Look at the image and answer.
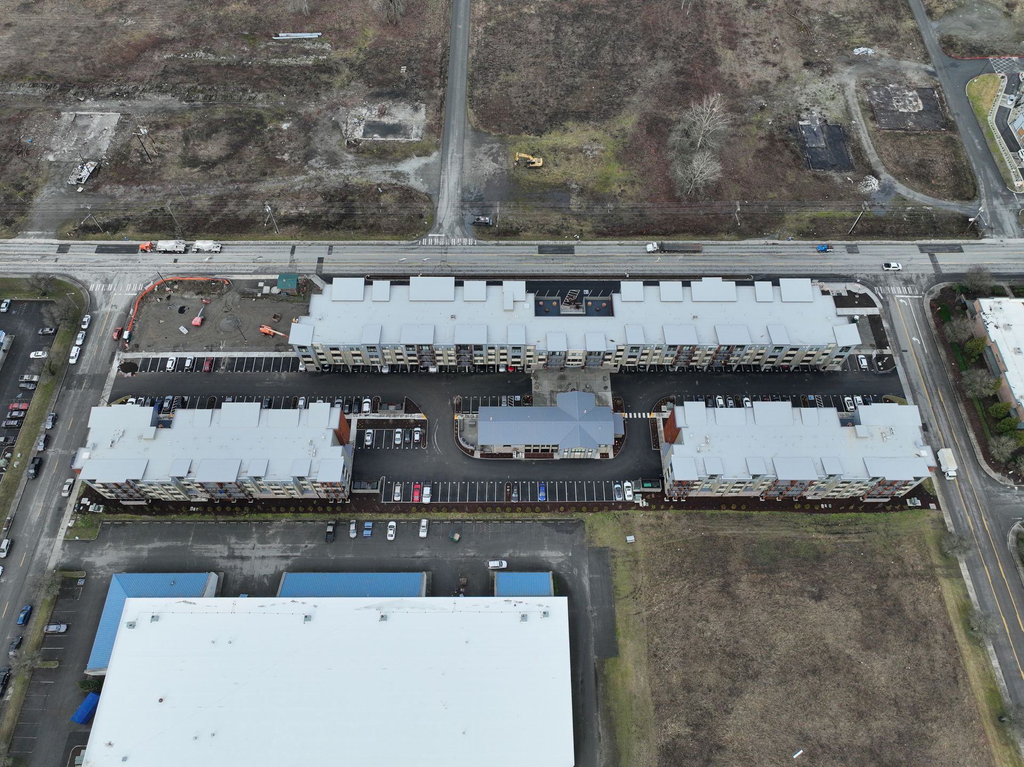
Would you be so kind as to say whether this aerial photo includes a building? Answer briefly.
Yes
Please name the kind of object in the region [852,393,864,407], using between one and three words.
vehicle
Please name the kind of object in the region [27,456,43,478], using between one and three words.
vehicle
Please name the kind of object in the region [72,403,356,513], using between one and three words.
building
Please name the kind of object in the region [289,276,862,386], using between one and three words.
building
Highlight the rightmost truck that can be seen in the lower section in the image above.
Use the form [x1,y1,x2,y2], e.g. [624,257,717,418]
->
[940,447,961,479]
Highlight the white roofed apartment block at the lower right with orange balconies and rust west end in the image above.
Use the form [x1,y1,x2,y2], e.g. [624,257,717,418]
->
[660,401,937,511]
